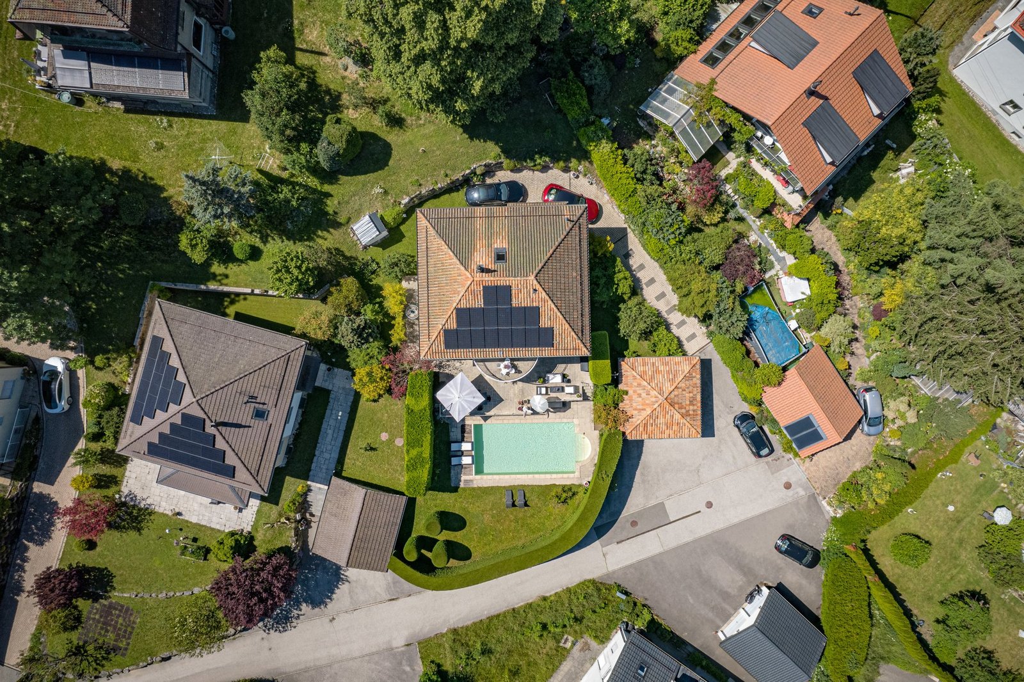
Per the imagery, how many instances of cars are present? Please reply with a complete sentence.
The picture shows 6 cars.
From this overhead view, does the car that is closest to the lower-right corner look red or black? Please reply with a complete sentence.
The color of the car that is closest to the lower-right corner is black.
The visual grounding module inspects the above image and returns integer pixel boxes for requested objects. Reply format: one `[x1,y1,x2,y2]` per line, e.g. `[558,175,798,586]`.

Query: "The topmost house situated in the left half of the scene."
[6,0,228,106]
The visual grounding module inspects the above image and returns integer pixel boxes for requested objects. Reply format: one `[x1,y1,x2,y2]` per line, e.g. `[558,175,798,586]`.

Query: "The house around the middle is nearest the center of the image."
[415,201,592,383]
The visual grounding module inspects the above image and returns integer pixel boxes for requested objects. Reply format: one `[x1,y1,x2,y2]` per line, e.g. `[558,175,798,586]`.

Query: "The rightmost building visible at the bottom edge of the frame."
[711,577,828,682]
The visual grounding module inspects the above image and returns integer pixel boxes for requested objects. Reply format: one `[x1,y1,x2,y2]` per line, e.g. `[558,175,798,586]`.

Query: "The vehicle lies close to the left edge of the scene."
[42,358,72,412]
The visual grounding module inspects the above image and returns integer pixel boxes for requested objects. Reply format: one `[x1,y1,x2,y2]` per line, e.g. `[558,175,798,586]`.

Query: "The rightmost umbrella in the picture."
[981,506,1009,523]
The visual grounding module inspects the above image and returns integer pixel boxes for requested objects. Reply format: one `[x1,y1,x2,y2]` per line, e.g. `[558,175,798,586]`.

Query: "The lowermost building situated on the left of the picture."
[311,477,408,572]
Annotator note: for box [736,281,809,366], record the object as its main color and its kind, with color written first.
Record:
blue swimming pool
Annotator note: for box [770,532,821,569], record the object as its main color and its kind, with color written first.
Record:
black car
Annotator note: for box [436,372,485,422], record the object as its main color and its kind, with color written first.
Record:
white umbrella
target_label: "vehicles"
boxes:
[730,410,777,462]
[855,384,887,437]
[42,358,72,412]
[770,532,821,569]
[542,184,600,221]
[465,178,527,206]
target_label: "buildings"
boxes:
[115,299,325,510]
[0,365,25,473]
[311,477,408,572]
[618,356,704,441]
[632,0,913,228]
[415,201,592,383]
[756,346,864,458]
[573,617,719,682]
[352,213,390,248]
[6,0,228,106]
[711,577,828,682]
[949,0,1024,162]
